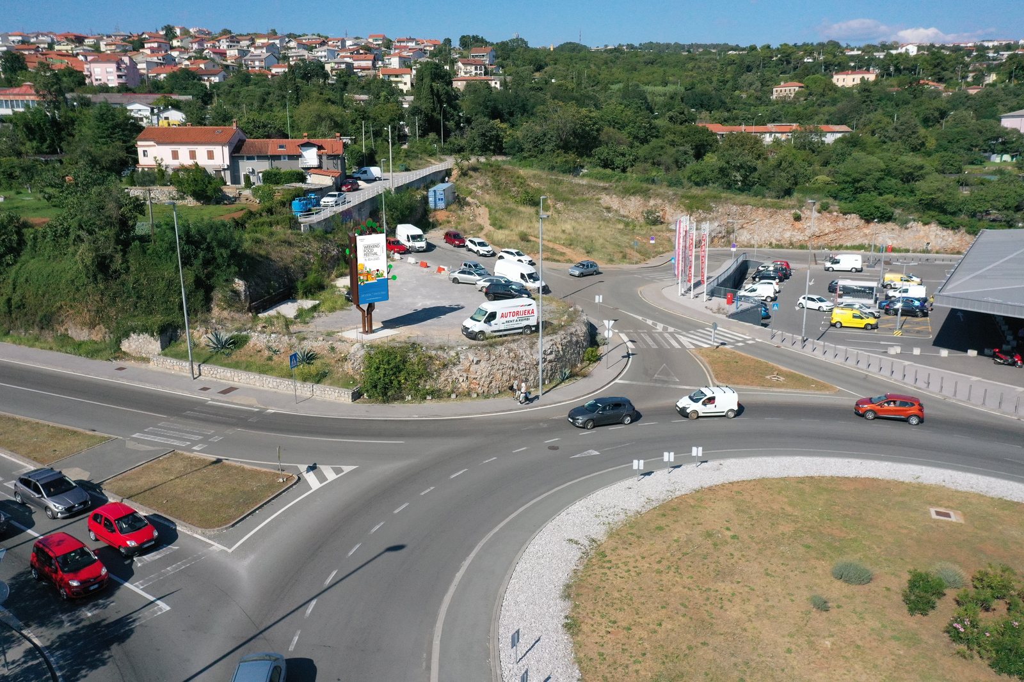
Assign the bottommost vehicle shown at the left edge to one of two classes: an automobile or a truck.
automobile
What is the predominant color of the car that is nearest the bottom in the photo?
blue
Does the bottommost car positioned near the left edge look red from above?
Yes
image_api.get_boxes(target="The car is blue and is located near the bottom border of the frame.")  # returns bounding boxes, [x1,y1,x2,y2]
[229,649,288,682]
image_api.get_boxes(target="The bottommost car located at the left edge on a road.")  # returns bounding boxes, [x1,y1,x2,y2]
[31,531,104,592]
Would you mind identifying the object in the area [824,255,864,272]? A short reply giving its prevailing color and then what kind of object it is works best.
white vehicle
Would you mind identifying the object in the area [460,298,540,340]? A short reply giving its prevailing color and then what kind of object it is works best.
white van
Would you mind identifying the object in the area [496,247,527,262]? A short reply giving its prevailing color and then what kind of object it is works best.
white car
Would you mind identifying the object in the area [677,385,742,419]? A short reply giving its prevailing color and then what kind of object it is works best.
white van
